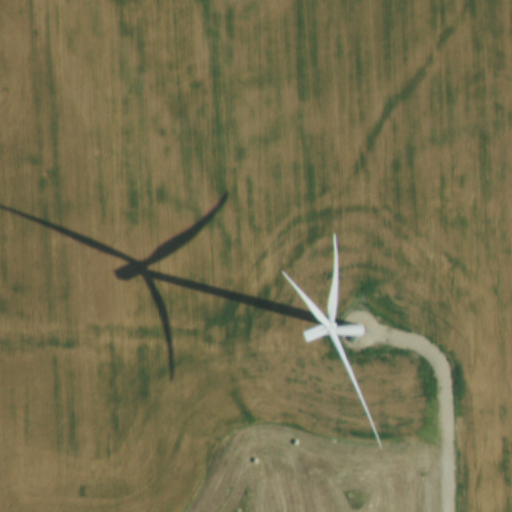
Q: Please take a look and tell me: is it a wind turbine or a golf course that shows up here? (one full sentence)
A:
Of the two, only a wind turbine appears.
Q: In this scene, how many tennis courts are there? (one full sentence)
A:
There are no tennis courts in the image.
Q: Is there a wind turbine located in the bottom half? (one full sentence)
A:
Yes, a wind turbine shows up in the bottom half.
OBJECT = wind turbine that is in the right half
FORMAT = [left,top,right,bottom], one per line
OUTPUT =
[280,233,380,448]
